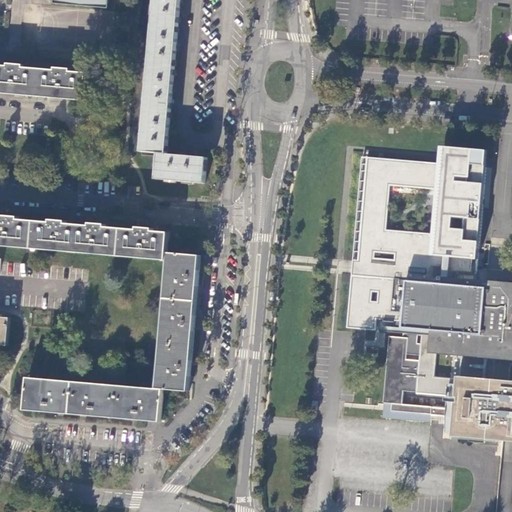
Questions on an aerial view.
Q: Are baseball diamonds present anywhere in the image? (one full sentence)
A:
No, this view has no baseball diamond in it.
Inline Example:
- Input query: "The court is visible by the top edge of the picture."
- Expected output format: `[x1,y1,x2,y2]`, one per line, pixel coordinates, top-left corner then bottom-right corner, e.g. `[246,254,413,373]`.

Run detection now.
[41,8,92,40]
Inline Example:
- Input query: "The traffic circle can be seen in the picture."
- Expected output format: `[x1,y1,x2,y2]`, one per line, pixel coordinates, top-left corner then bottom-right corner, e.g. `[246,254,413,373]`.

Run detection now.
[246,40,314,124]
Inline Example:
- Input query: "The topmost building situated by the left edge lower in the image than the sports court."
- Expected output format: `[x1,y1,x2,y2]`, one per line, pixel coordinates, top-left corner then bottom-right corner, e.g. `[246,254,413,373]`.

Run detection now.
[0,64,80,101]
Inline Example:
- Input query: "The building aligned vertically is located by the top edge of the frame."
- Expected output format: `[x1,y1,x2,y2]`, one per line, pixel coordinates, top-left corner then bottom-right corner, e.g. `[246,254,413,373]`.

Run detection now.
[136,0,184,154]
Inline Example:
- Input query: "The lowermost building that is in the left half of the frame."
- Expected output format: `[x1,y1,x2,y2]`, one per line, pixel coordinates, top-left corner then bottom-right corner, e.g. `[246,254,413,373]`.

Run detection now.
[20,377,165,422]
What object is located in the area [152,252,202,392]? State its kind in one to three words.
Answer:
building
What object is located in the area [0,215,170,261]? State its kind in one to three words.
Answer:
building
